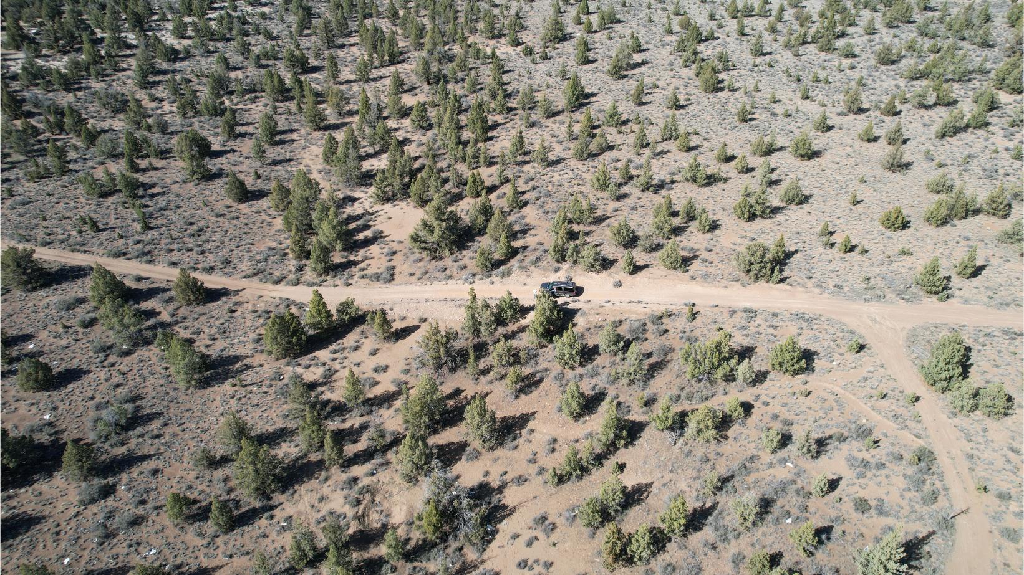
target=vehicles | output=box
[539,279,578,296]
